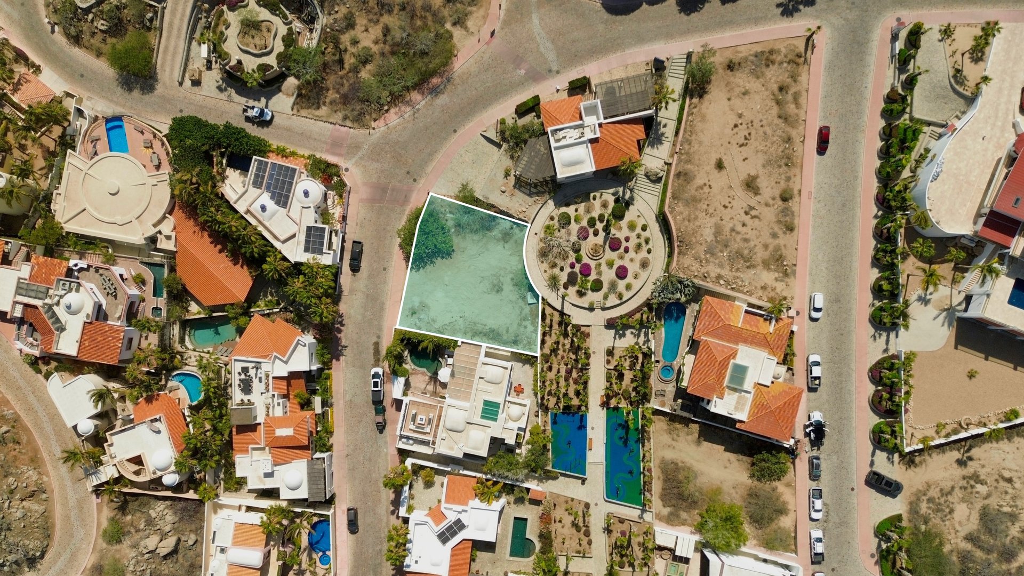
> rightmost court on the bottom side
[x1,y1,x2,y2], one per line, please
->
[607,408,643,507]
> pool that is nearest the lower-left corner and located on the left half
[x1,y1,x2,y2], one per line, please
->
[170,370,205,405]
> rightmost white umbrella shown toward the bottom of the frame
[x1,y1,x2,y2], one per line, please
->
[438,368,451,381]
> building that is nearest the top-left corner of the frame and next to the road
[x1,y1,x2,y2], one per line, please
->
[6,69,63,108]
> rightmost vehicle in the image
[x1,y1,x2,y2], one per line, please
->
[865,470,902,494]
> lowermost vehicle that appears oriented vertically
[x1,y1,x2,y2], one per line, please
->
[809,528,825,564]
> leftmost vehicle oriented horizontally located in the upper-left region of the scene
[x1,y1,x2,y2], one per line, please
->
[241,104,275,122]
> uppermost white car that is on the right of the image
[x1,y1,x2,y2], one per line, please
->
[809,293,824,320]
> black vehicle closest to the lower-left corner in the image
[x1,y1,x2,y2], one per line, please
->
[345,506,359,534]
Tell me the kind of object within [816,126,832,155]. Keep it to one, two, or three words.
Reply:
car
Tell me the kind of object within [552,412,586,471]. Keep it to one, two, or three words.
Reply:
sports court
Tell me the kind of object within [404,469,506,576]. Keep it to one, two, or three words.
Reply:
house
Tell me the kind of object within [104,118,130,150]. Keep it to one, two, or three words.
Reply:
swimming pool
